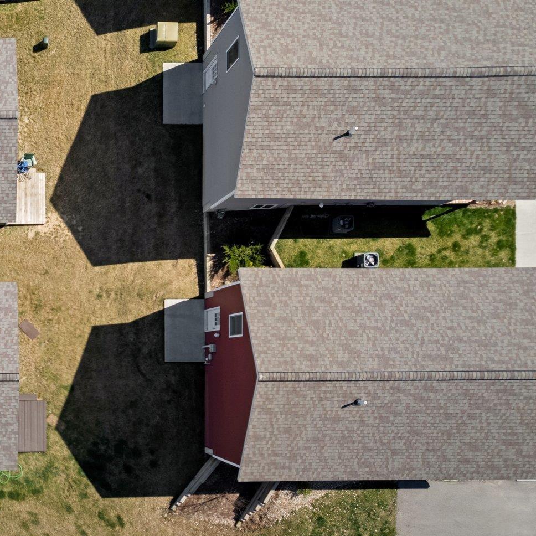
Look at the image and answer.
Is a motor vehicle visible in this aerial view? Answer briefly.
No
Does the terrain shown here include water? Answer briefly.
No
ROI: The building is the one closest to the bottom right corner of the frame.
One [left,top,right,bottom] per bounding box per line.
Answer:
[204,268,536,480]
